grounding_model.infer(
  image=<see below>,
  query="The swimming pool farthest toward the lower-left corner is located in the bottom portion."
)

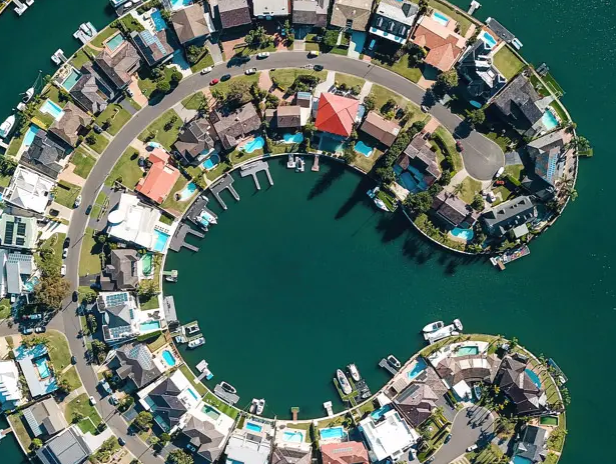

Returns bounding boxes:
[37,354,57,382]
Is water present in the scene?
Yes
